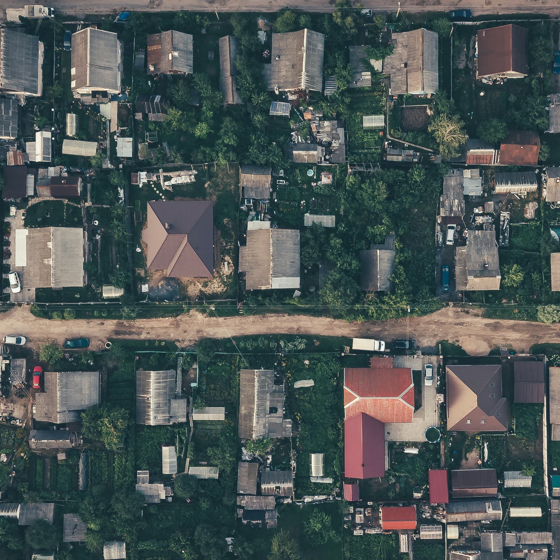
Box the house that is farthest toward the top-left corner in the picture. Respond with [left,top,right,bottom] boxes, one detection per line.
[0,28,49,106]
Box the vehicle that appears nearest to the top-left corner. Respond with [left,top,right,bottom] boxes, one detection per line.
[21,2,56,20]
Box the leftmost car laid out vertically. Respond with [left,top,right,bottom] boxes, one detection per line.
[8,270,22,294]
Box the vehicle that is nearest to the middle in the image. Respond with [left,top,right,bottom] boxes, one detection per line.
[352,338,385,352]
